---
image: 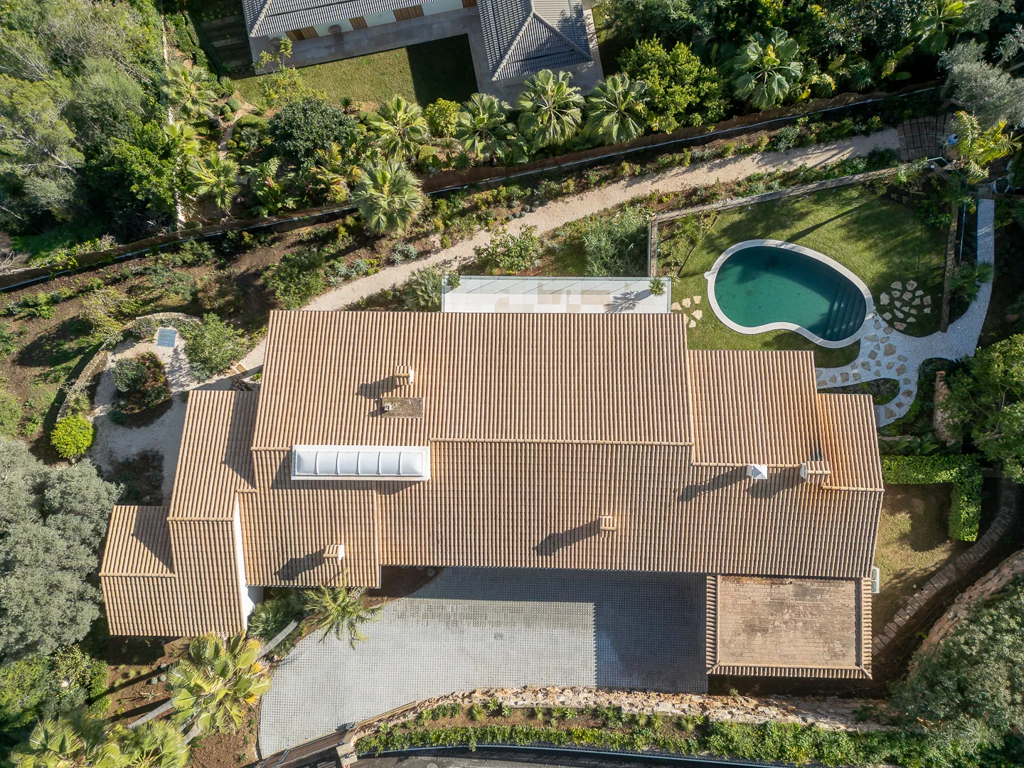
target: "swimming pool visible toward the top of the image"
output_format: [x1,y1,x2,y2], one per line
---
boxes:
[702,239,874,348]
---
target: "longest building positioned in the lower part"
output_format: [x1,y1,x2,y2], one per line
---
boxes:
[97,308,890,637]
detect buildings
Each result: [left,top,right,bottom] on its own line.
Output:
[97,308,890,637]
[249,0,594,82]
